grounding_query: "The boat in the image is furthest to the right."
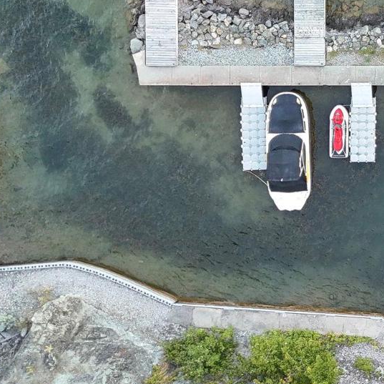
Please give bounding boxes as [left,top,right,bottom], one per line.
[329,105,349,157]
